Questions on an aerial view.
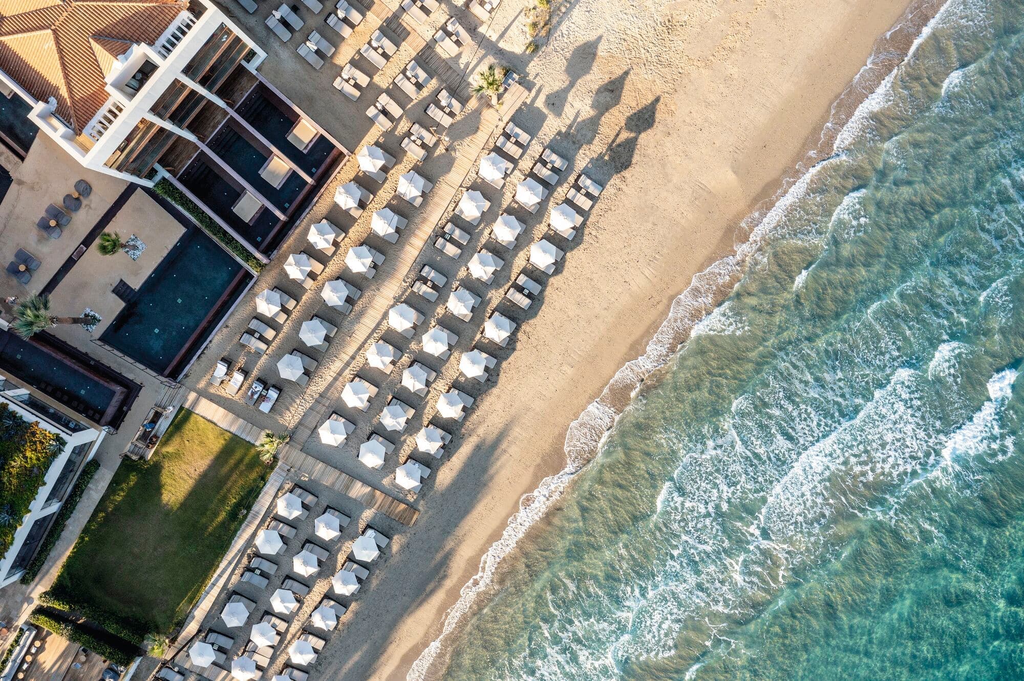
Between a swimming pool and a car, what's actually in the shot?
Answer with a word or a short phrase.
swimming pool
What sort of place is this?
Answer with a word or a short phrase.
beach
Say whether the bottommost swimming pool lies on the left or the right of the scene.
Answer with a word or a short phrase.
left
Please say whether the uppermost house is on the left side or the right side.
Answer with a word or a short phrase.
left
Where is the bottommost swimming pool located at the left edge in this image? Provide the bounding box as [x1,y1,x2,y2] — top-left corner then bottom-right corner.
[0,319,142,431]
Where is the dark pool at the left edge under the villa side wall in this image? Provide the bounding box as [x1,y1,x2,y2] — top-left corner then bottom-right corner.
[0,98,47,159]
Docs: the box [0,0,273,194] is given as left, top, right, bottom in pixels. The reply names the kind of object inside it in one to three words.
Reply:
house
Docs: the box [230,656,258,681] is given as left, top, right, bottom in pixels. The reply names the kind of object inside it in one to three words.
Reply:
umbrella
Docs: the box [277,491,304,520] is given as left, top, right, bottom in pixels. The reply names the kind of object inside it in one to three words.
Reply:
umbrella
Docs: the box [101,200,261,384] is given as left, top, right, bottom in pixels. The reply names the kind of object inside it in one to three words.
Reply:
swimming pool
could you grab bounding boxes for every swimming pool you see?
[0,98,47,159]
[0,319,142,431]
[207,117,314,217]
[178,150,285,250]
[101,200,261,384]
[237,82,342,181]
